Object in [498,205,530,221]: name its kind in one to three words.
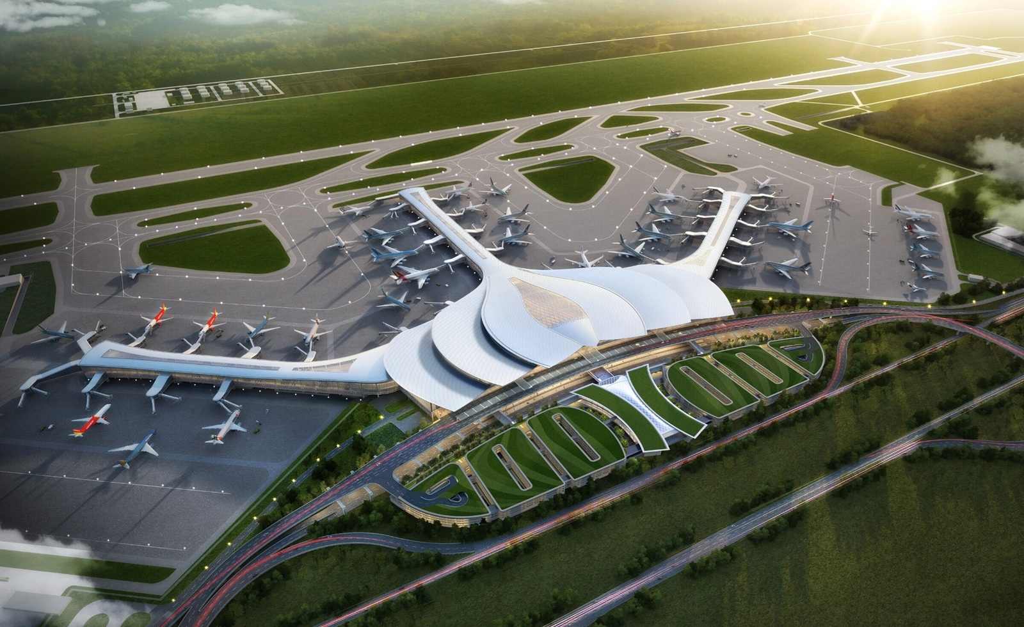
airplane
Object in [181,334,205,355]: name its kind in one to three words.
jet bridge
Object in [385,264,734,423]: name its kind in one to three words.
building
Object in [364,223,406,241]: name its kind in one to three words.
airplane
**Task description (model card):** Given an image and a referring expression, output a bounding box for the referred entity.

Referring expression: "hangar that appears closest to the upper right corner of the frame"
[980,225,1024,255]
